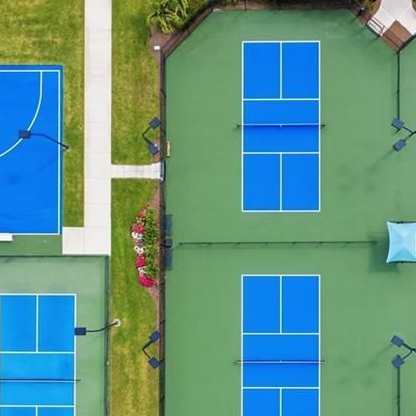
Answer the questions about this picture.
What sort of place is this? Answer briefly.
sports ground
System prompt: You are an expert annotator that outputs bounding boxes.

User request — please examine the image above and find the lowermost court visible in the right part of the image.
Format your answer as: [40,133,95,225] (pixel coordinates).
[242,275,320,416]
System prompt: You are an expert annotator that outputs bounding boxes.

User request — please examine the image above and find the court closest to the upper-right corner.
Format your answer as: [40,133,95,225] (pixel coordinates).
[242,41,320,212]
